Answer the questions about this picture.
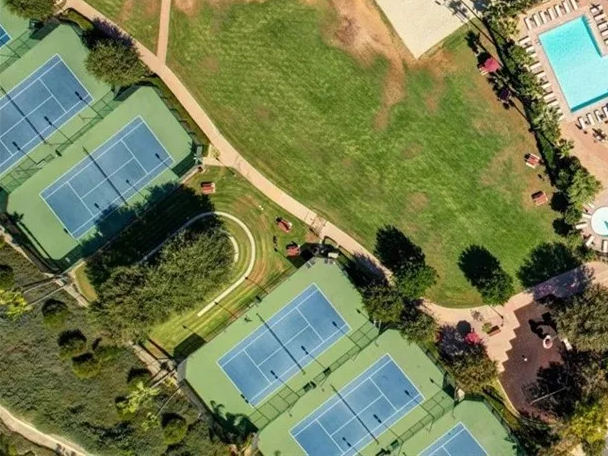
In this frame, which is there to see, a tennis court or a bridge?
tennis court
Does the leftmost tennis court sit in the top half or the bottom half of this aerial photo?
top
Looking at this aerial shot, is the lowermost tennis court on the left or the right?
right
